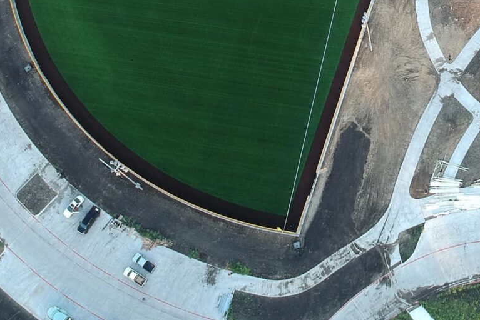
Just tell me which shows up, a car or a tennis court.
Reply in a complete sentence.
This aerial view contains a car.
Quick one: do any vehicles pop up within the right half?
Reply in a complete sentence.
No, I can find no vehicle within the right half.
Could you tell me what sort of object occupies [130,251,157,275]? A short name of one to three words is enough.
truck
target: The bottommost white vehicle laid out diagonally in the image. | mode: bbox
[121,265,149,288]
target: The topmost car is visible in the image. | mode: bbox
[61,192,83,219]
